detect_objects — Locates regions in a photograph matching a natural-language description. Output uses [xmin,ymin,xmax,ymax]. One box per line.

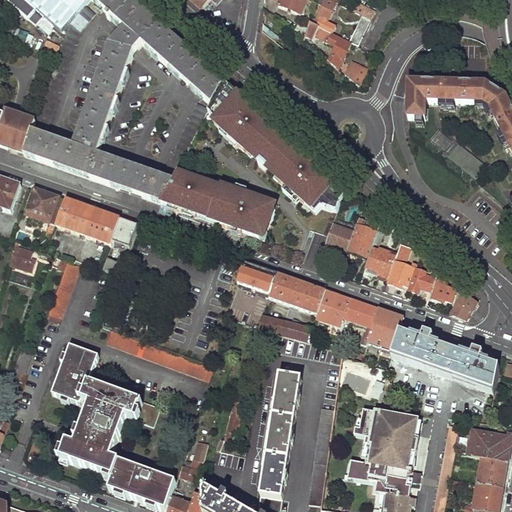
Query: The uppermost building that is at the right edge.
[406,76,512,150]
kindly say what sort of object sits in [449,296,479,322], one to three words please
house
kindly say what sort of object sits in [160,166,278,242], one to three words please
building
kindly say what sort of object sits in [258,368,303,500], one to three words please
building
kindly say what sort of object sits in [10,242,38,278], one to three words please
house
